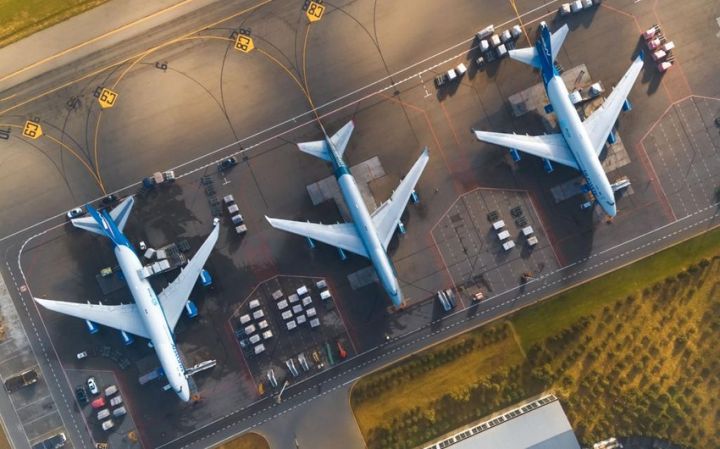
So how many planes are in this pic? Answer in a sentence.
The count of planes comes to 3.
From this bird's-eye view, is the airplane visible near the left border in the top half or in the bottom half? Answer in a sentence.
The airplane visible near the left border is in the bottom half of the image.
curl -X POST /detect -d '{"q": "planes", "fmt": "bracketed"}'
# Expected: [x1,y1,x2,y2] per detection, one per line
[477,22,650,216]
[266,119,430,306]
[30,193,216,401]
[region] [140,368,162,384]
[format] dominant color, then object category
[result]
blue vehicle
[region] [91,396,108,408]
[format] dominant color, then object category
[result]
red vehicle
